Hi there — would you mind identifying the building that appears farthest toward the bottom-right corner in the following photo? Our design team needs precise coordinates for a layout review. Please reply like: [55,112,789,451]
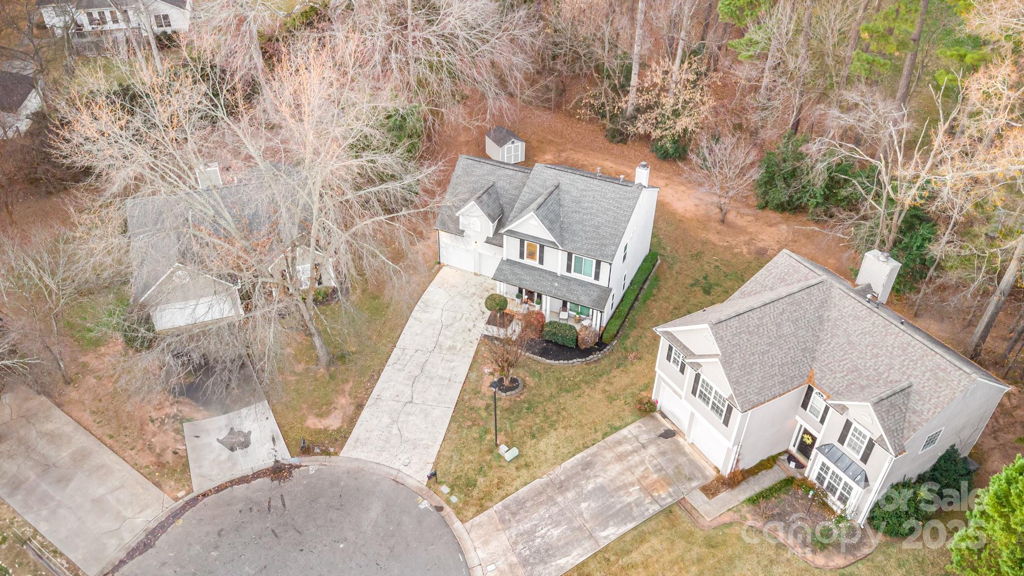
[650,246,1016,528]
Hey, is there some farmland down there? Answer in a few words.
No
